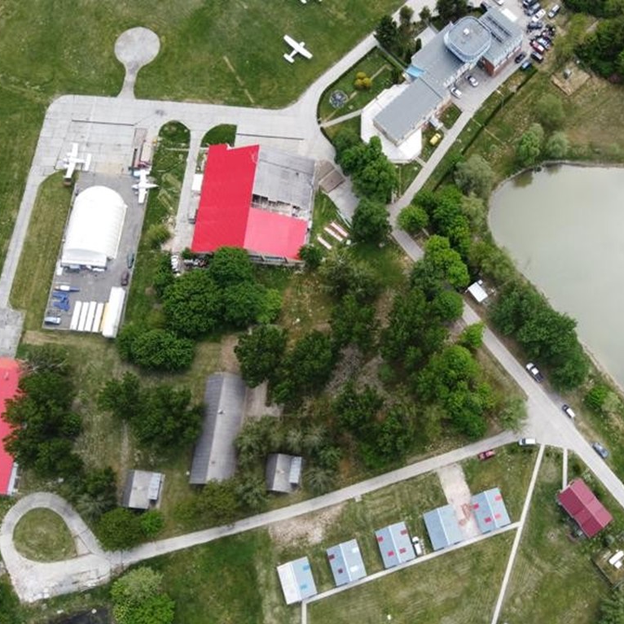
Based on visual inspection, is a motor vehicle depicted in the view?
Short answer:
Yes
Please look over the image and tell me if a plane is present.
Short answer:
Yes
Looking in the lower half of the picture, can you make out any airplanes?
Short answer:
No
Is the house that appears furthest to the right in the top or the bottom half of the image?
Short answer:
bottom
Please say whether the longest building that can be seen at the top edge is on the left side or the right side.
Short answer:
right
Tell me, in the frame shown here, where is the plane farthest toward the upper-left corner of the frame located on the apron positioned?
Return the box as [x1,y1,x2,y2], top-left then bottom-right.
[64,144,91,180]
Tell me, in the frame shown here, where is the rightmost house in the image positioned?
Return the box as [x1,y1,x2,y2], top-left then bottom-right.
[557,479,613,537]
